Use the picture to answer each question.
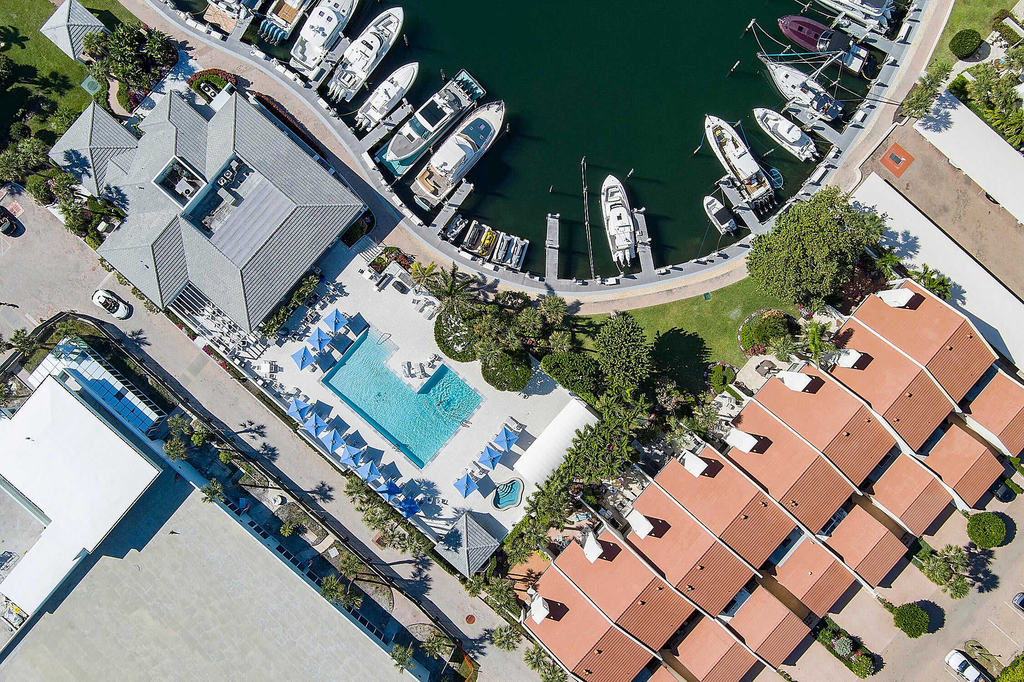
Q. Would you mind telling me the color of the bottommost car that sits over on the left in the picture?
white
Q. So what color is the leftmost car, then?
black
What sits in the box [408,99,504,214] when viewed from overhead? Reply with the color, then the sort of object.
white boat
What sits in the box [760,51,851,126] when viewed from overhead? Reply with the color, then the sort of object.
white boat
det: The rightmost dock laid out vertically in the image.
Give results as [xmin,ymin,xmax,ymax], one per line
[633,214,654,271]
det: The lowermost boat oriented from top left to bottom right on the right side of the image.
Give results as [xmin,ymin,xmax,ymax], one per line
[705,196,735,236]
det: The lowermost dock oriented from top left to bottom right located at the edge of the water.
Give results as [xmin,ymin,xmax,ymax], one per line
[717,179,762,232]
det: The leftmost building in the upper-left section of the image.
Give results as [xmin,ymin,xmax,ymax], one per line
[38,0,115,63]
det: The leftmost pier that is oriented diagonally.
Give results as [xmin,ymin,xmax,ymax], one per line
[227,0,264,42]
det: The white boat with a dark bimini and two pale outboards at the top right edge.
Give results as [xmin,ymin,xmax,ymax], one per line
[819,0,899,36]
